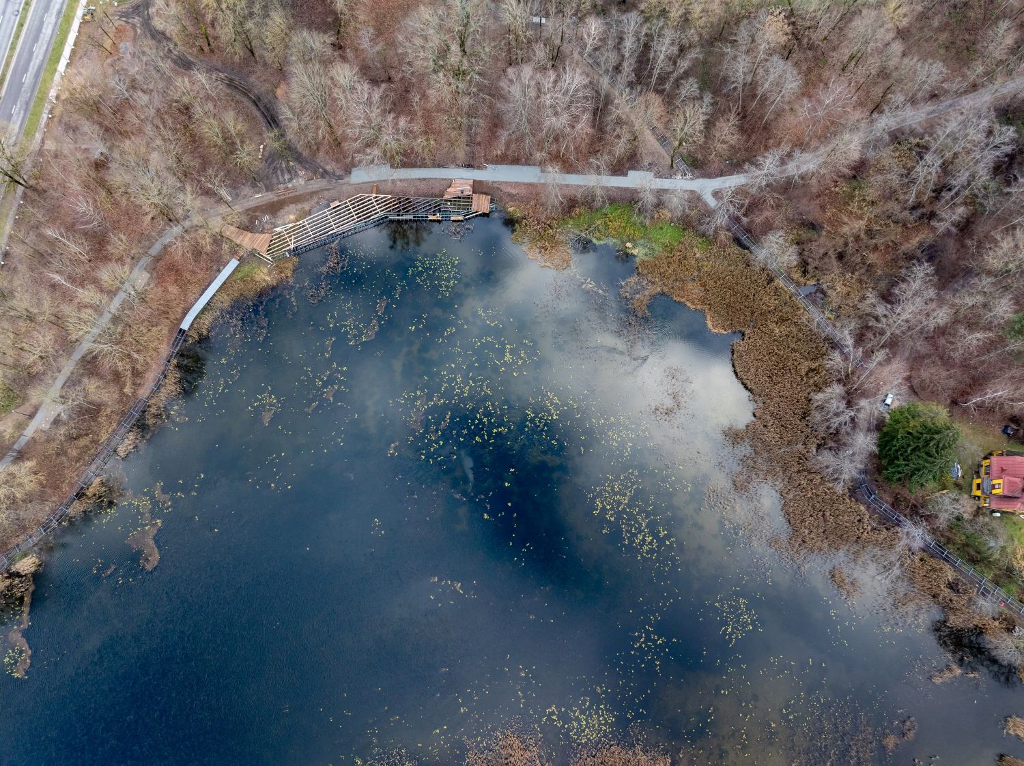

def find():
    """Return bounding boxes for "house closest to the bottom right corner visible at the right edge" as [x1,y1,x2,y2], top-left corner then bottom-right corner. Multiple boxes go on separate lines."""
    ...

[970,453,1024,509]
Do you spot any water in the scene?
Yes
